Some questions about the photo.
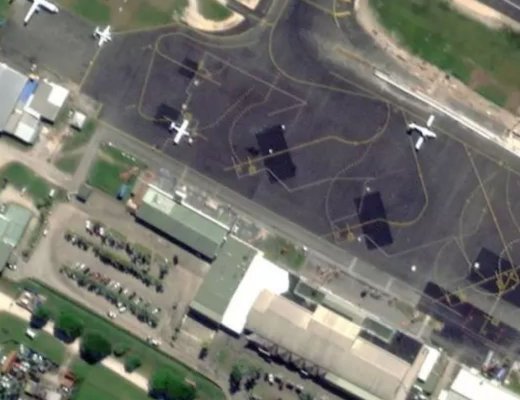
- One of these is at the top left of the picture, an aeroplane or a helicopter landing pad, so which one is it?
aeroplane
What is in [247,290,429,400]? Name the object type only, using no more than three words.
building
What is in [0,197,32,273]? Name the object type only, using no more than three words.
building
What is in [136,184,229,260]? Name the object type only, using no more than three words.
hangar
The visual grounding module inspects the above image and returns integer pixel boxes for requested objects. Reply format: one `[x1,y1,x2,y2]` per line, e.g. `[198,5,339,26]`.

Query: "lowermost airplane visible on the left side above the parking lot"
[169,119,190,143]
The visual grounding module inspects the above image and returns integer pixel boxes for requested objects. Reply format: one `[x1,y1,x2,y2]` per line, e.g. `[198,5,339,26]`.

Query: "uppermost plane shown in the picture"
[21,0,57,22]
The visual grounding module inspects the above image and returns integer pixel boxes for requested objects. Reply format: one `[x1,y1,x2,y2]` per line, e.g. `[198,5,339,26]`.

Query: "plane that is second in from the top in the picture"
[94,25,111,46]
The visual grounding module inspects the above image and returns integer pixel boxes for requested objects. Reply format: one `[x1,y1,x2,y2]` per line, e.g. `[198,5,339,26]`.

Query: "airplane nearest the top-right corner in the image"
[409,115,437,150]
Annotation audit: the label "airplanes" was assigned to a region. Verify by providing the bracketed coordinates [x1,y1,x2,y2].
[21,0,57,22]
[169,119,190,143]
[94,25,111,46]
[409,115,437,150]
